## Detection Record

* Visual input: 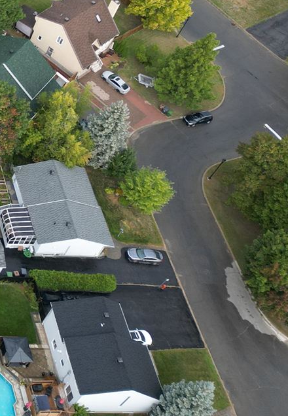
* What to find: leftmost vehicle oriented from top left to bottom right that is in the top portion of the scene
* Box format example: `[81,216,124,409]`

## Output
[100,72,132,95]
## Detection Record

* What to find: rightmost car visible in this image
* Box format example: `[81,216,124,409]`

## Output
[182,109,217,128]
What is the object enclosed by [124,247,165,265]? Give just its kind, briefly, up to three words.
car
